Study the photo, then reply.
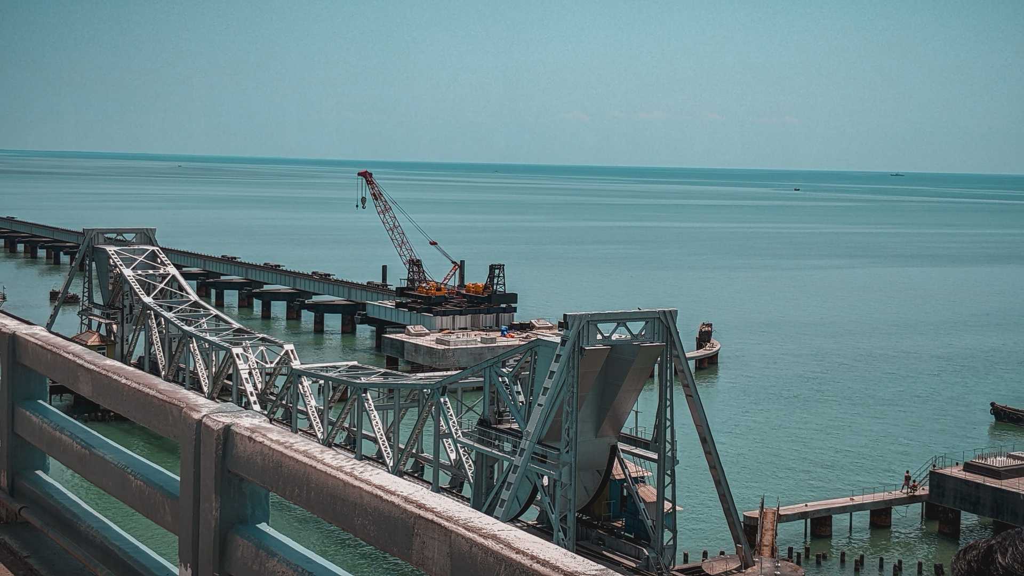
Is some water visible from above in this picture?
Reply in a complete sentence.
Yes, water can be seen from above here.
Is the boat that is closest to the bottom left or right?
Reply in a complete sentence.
It is on the right.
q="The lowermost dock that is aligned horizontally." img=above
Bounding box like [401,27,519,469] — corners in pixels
[740,486,973,552]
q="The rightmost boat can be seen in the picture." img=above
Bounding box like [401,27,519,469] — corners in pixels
[992,400,1024,425]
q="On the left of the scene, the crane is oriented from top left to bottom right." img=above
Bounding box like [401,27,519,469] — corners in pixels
[356,174,463,291]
